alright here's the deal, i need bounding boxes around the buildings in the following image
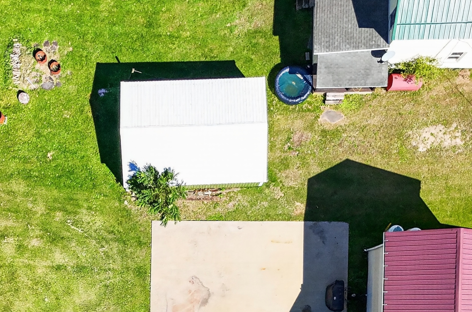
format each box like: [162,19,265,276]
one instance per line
[363,228,472,312]
[283,0,472,109]
[120,77,269,194]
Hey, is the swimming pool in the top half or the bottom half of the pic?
top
